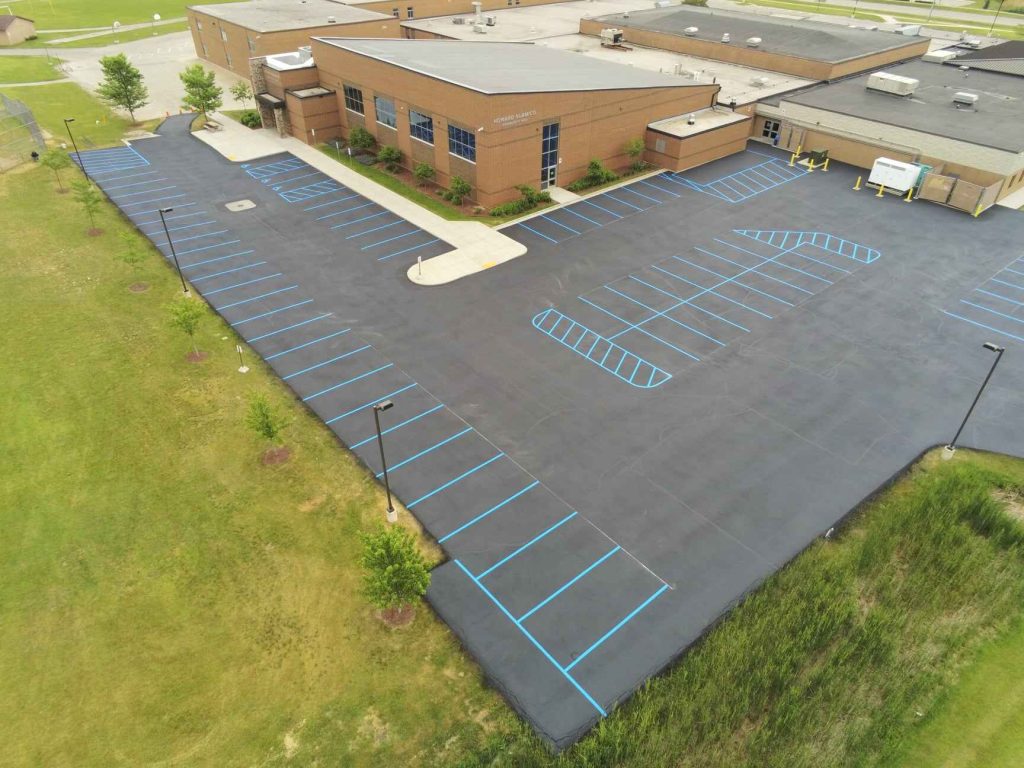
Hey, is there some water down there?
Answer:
No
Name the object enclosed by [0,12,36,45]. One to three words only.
shed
